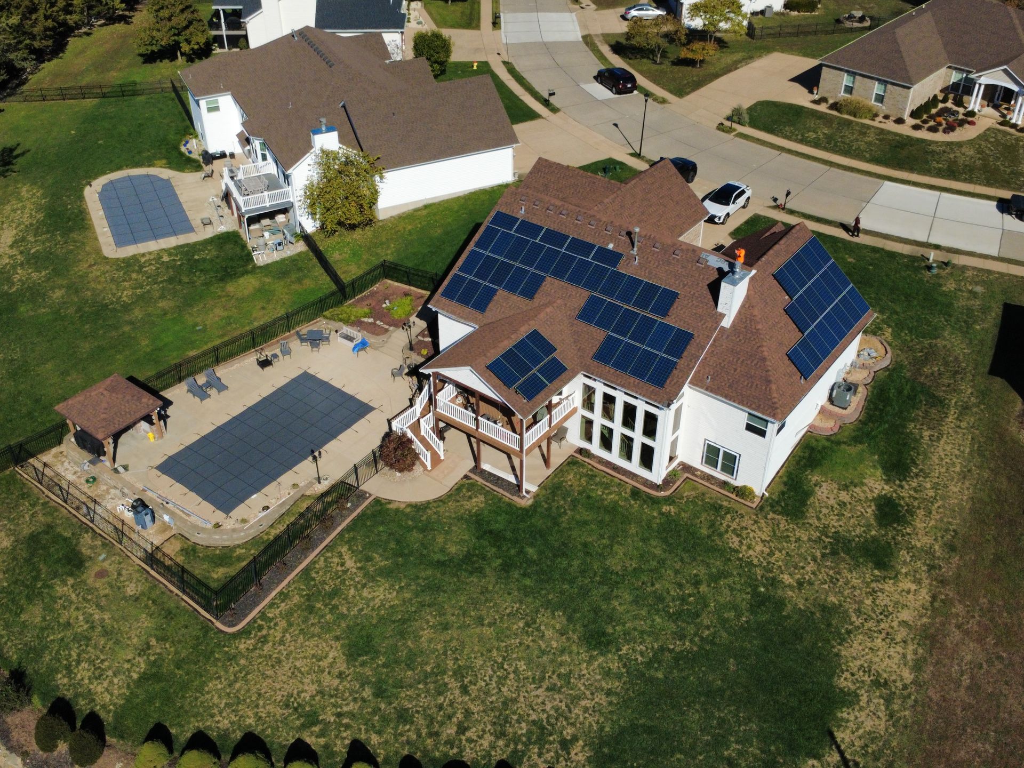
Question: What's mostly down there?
grass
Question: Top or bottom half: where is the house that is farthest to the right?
top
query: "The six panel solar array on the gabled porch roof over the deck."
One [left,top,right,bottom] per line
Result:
[488,328,567,400]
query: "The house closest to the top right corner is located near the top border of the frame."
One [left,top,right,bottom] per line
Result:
[814,0,1024,126]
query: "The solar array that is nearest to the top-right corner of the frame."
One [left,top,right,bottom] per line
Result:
[775,237,872,378]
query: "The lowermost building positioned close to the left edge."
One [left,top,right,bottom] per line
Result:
[51,372,167,470]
